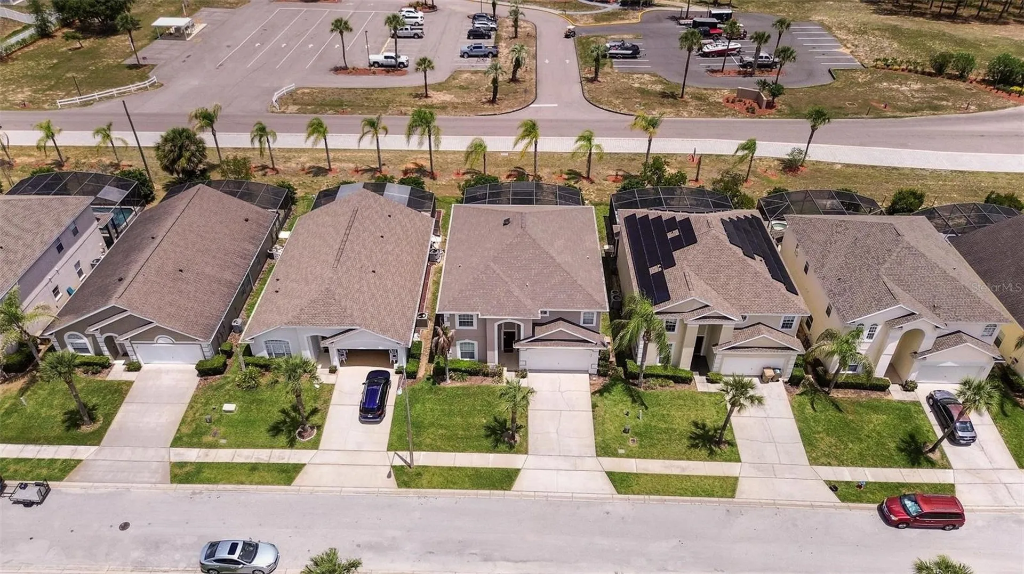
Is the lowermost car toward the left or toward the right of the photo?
left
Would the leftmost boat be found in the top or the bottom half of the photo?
top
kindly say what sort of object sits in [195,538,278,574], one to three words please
car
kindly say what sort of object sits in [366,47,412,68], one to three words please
truck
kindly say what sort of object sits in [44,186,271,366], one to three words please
house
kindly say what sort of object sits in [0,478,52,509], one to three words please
trailer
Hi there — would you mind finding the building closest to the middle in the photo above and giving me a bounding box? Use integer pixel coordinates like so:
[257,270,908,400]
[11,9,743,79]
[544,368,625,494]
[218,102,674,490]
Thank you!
[438,204,609,373]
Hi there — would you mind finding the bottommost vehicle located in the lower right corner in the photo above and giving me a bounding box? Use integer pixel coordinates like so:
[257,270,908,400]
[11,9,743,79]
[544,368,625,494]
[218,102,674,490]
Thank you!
[883,491,970,530]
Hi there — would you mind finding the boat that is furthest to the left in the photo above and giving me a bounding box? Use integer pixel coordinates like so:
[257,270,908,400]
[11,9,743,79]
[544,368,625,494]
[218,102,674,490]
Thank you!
[603,37,651,59]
